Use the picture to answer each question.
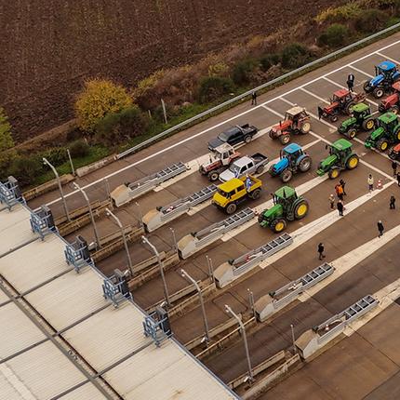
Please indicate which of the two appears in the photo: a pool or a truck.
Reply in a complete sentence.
There is a truck in the scene.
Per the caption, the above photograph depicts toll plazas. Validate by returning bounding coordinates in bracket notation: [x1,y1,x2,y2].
[0,179,243,400]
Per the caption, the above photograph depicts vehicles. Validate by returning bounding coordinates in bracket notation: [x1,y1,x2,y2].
[313,136,363,181]
[195,140,244,181]
[337,103,378,141]
[256,183,312,235]
[312,87,371,128]
[206,173,264,214]
[270,107,312,145]
[364,60,400,100]
[206,121,259,153]
[217,151,273,181]
[362,113,400,153]
[379,80,400,116]
[265,141,315,186]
